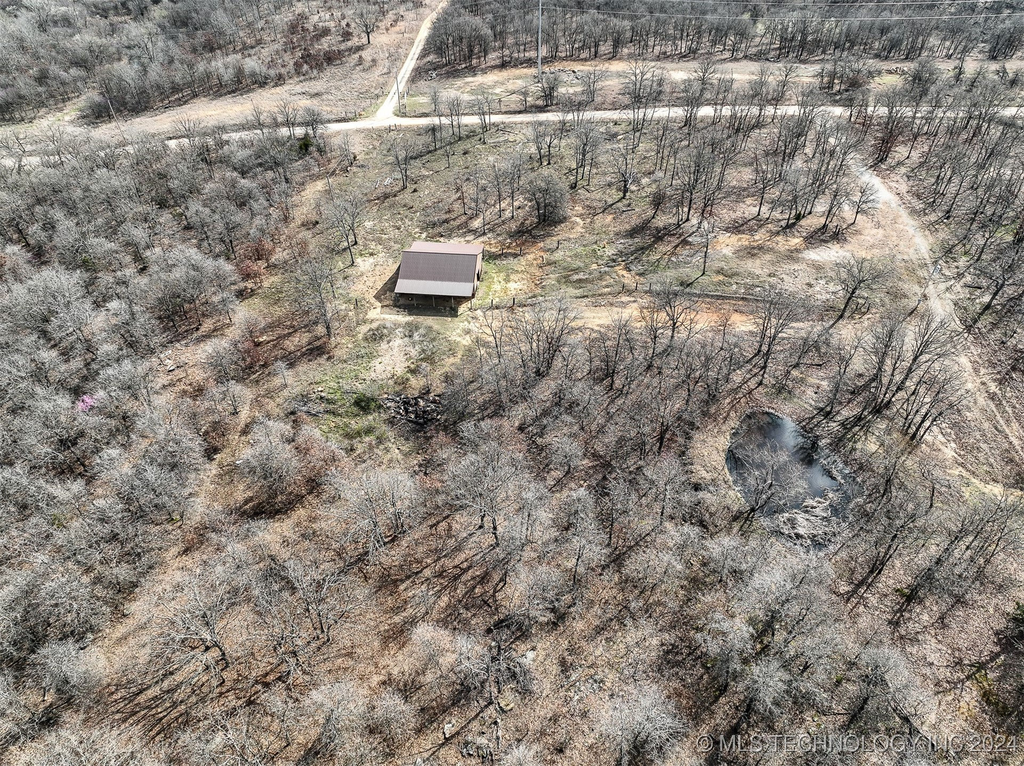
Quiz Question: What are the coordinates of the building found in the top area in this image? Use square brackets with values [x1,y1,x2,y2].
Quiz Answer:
[393,242,486,309]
